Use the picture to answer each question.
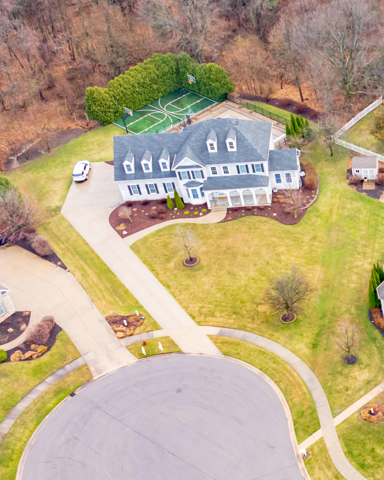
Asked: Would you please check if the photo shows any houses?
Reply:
Yes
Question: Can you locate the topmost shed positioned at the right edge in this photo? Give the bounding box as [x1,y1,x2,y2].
[351,155,383,185]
